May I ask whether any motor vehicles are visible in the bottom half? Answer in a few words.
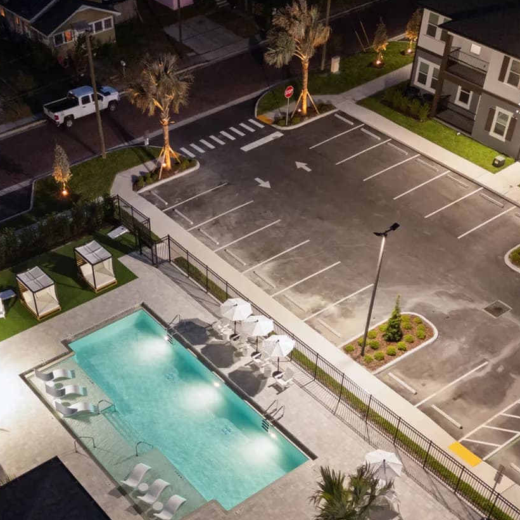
No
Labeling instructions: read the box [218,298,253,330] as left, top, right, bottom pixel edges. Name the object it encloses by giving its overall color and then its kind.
white umbrella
